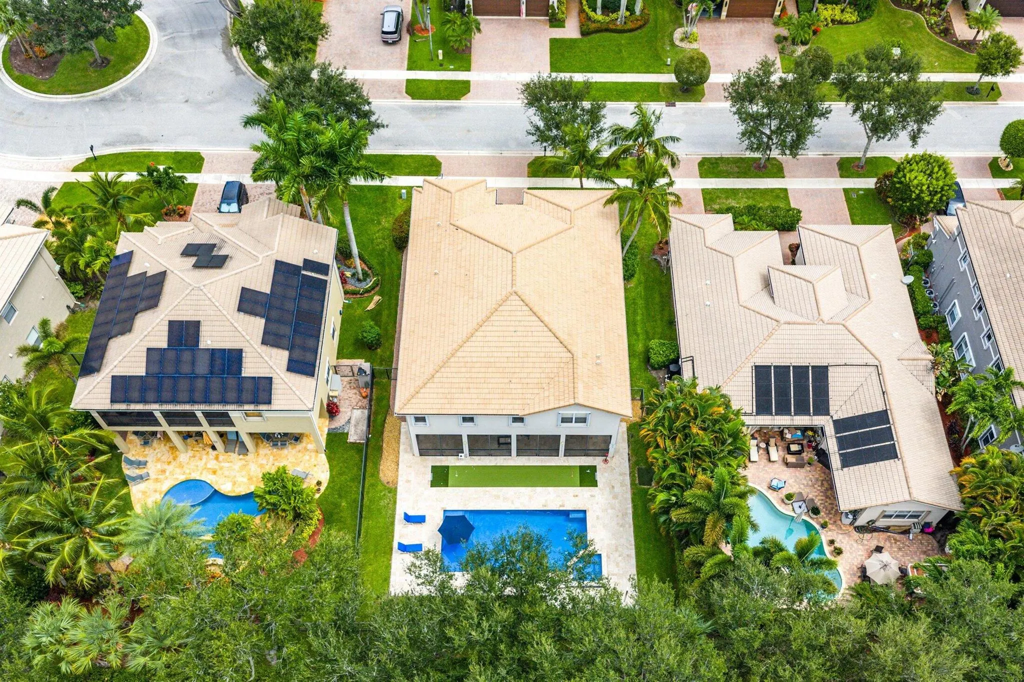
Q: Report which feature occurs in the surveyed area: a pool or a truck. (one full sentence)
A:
There is a pool in the scene.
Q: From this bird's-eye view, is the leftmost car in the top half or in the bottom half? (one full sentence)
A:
The leftmost car sits in the top half of the picture.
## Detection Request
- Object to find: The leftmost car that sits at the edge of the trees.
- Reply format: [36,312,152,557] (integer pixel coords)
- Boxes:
[221,178,252,211]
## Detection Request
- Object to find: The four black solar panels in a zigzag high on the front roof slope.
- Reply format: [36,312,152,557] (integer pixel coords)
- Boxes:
[182,243,229,266]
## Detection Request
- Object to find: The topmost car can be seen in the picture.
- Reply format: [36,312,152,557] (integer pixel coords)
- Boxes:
[381,4,404,39]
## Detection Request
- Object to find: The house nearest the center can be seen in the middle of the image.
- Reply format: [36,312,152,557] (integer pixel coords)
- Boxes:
[394,177,634,458]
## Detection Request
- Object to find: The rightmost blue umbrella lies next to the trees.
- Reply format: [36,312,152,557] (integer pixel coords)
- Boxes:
[436,510,478,545]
